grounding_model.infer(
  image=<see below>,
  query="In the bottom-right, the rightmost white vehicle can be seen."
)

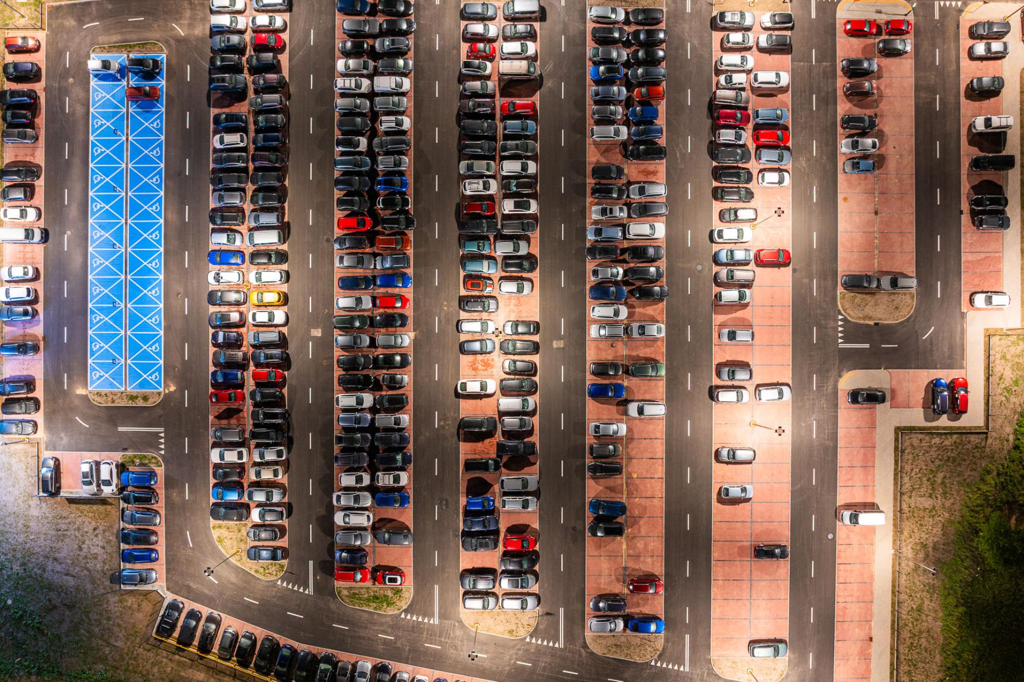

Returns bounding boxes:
[839,508,888,527]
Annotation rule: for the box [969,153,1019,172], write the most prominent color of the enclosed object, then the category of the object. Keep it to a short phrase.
black vehicle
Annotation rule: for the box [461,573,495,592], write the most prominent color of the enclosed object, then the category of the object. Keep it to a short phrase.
gray car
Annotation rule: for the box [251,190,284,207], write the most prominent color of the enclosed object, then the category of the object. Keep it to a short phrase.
black car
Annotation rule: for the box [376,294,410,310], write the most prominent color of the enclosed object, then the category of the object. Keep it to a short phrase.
red car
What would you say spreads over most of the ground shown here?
paved ground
